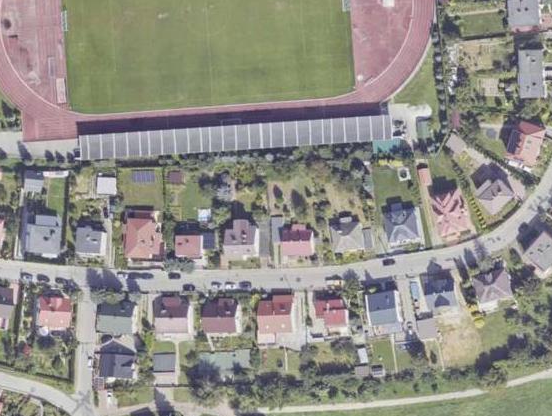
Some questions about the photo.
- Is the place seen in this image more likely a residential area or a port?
residential area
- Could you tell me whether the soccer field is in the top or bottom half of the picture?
top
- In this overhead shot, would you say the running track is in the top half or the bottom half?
top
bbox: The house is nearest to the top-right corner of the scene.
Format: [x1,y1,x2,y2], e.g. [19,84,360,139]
[509,0,544,36]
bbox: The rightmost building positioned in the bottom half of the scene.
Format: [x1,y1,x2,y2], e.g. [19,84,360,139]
[525,232,552,278]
